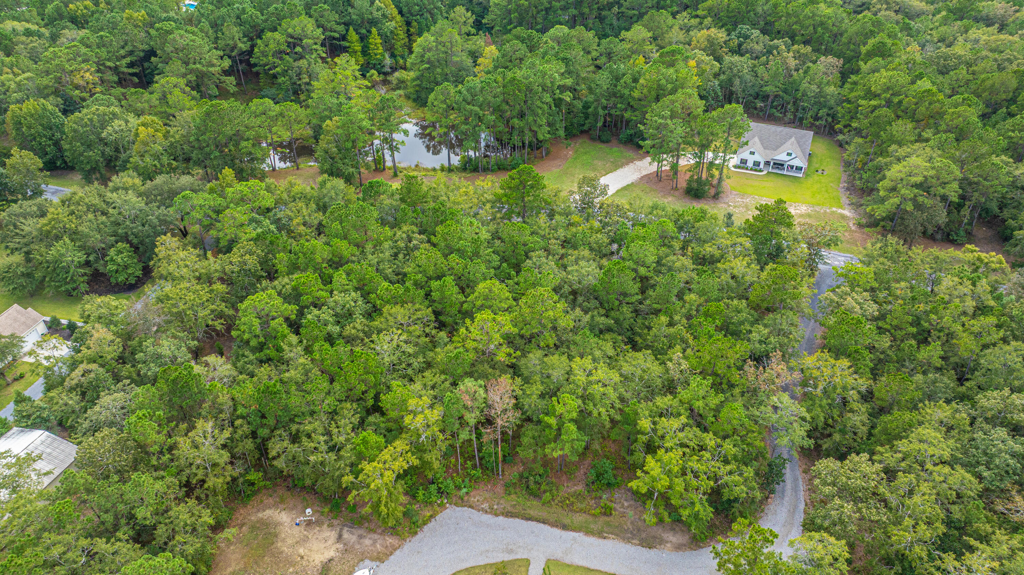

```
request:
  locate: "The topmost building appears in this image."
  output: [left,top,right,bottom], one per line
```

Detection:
[736,122,818,177]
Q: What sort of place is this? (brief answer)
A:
forest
